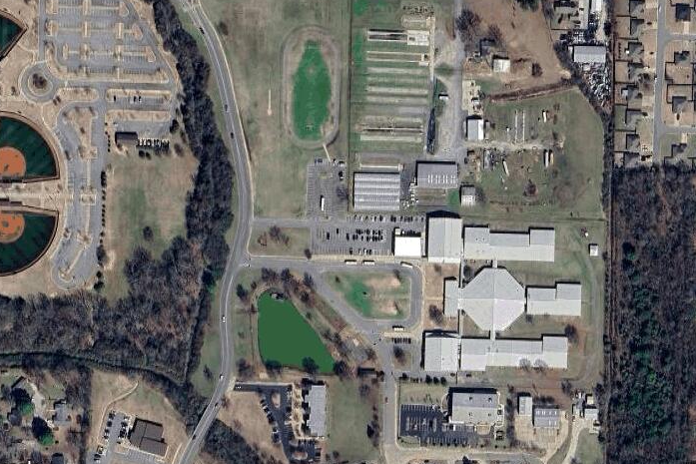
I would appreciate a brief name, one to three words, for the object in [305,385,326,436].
building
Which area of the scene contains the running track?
top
